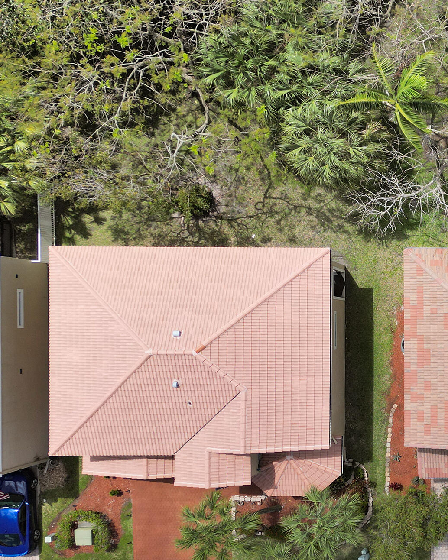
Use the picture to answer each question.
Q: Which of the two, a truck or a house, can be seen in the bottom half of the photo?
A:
house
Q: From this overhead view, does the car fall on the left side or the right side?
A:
left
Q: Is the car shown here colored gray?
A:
No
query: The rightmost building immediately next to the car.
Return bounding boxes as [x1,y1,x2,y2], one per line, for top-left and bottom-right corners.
[46,245,346,498]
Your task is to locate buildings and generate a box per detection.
[402,246,448,481]
[46,245,346,498]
